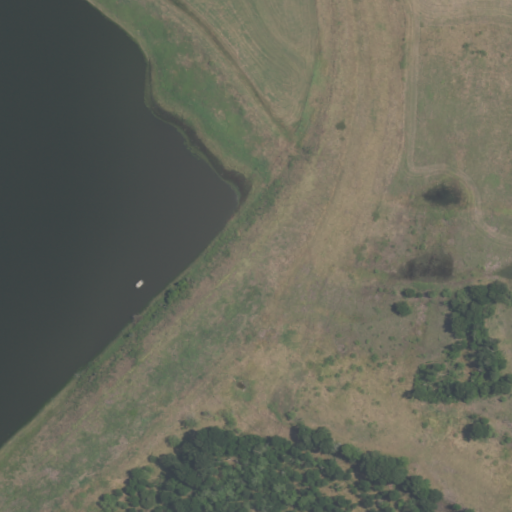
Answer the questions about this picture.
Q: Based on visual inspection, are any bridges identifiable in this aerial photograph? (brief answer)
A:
No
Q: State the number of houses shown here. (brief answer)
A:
0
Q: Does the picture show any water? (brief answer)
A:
Yes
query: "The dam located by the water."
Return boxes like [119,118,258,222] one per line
[0,140,290,512]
